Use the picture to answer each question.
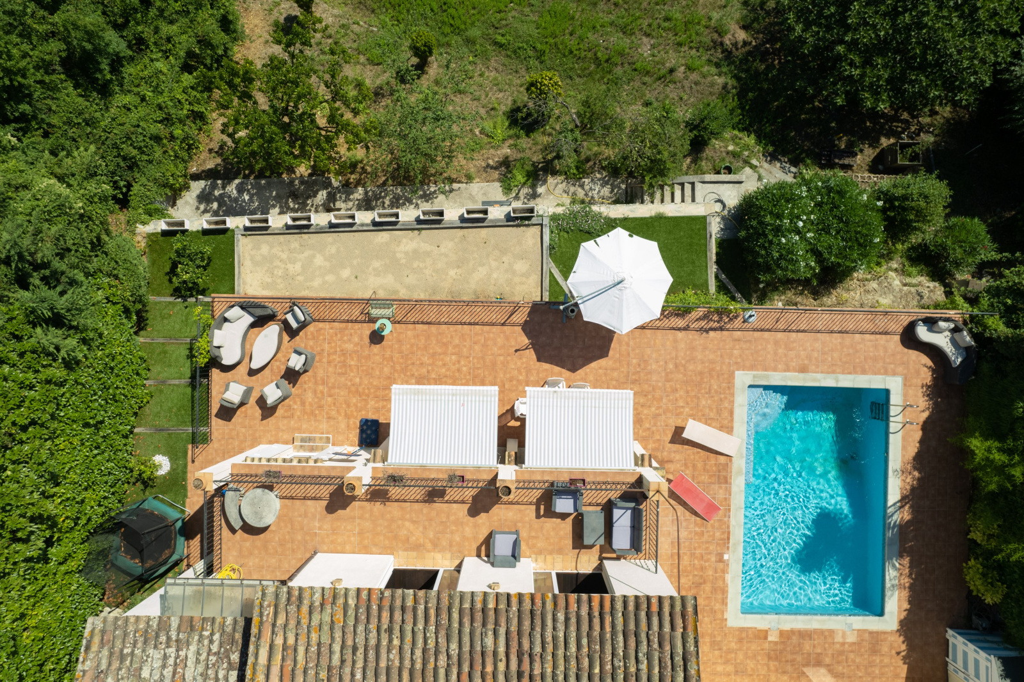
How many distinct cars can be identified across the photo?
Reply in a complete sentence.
Not a single car can be seen.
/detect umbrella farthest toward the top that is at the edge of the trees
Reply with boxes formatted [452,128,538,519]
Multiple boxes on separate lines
[550,227,673,334]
